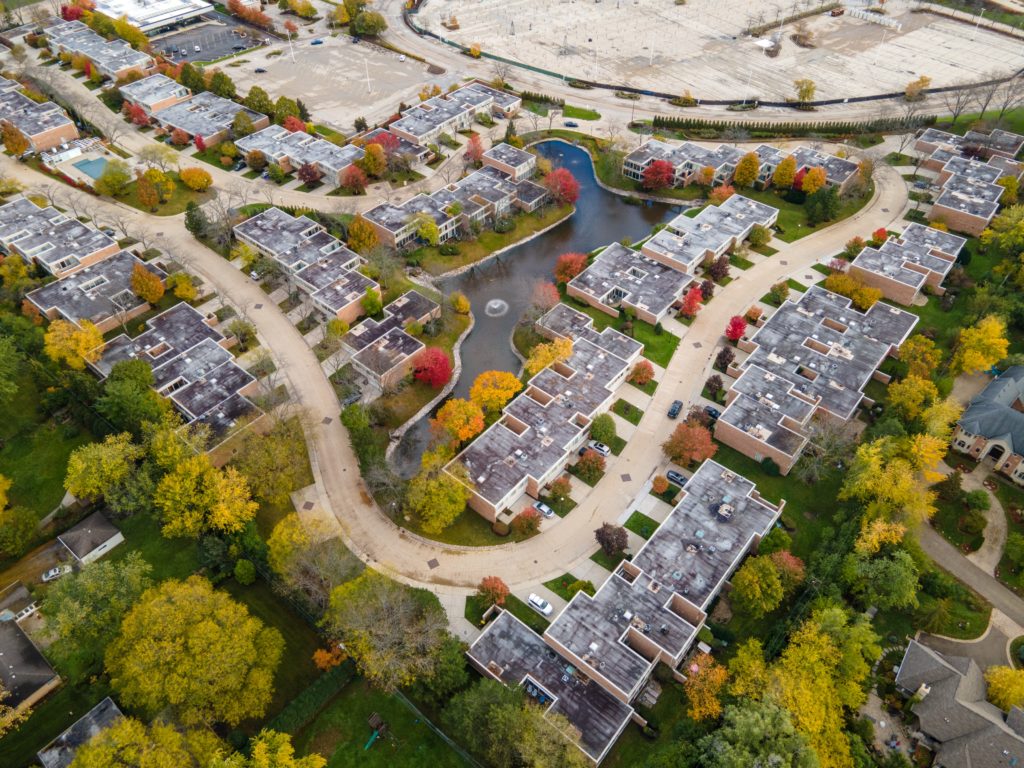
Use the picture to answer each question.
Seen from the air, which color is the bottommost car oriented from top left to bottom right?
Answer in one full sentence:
The bottommost car oriented from top left to bottom right looks white in the image.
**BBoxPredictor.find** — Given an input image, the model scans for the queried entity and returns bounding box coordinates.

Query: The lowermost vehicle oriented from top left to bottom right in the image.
[526,592,555,615]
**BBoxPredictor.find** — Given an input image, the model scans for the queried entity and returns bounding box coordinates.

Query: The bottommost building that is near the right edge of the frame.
[881,627,1024,768]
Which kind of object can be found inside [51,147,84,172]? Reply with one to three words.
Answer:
building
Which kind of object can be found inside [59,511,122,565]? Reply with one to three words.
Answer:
building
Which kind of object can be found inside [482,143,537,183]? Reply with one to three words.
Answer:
house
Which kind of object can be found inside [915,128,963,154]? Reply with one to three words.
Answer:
house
